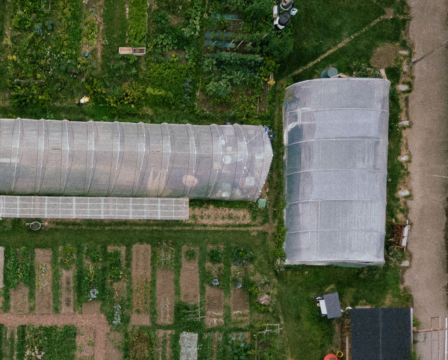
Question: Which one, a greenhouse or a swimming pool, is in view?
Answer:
greenhouse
